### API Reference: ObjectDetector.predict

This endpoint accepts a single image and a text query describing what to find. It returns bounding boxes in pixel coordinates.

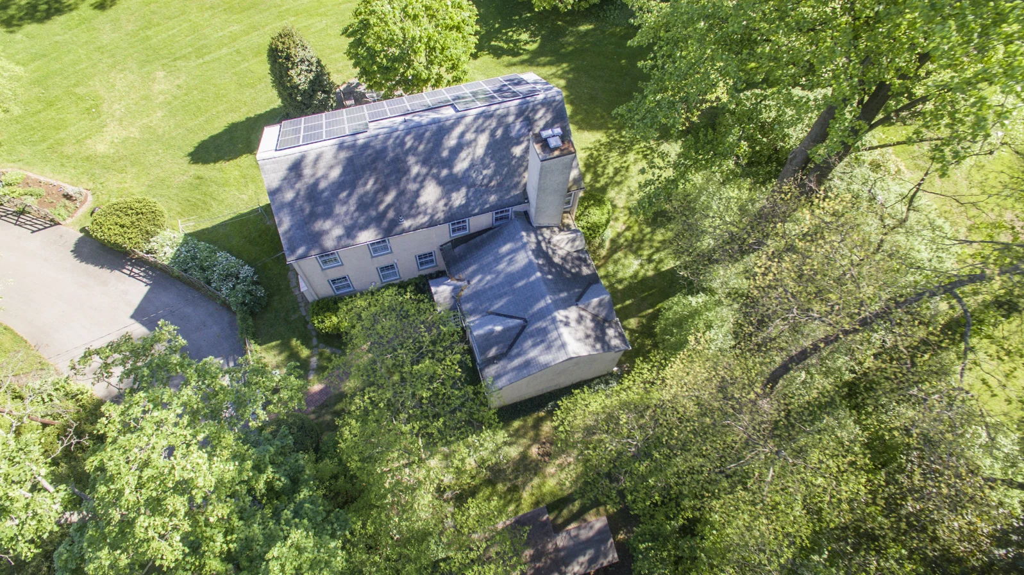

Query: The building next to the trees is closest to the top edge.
[256,72,632,407]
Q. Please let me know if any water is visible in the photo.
No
